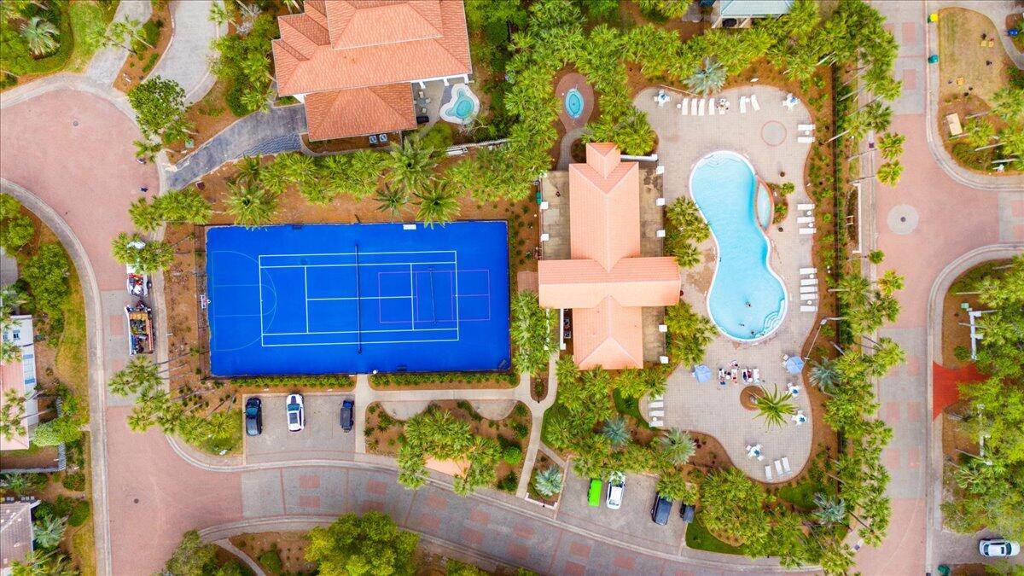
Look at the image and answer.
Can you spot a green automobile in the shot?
Yes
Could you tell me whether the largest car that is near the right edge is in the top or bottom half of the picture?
bottom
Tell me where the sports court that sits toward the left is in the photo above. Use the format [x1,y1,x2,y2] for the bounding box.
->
[205,220,512,379]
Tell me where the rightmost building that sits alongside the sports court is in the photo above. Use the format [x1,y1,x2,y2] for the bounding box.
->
[538,142,680,371]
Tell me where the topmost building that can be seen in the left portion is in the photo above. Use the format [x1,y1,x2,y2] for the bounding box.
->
[271,0,472,142]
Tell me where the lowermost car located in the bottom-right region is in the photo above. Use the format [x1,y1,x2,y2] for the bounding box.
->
[980,539,1020,560]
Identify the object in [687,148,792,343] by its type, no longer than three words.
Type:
swimming pool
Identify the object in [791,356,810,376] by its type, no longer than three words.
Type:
umbrella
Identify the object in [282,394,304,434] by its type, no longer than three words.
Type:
car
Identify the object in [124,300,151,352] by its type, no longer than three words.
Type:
trailer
